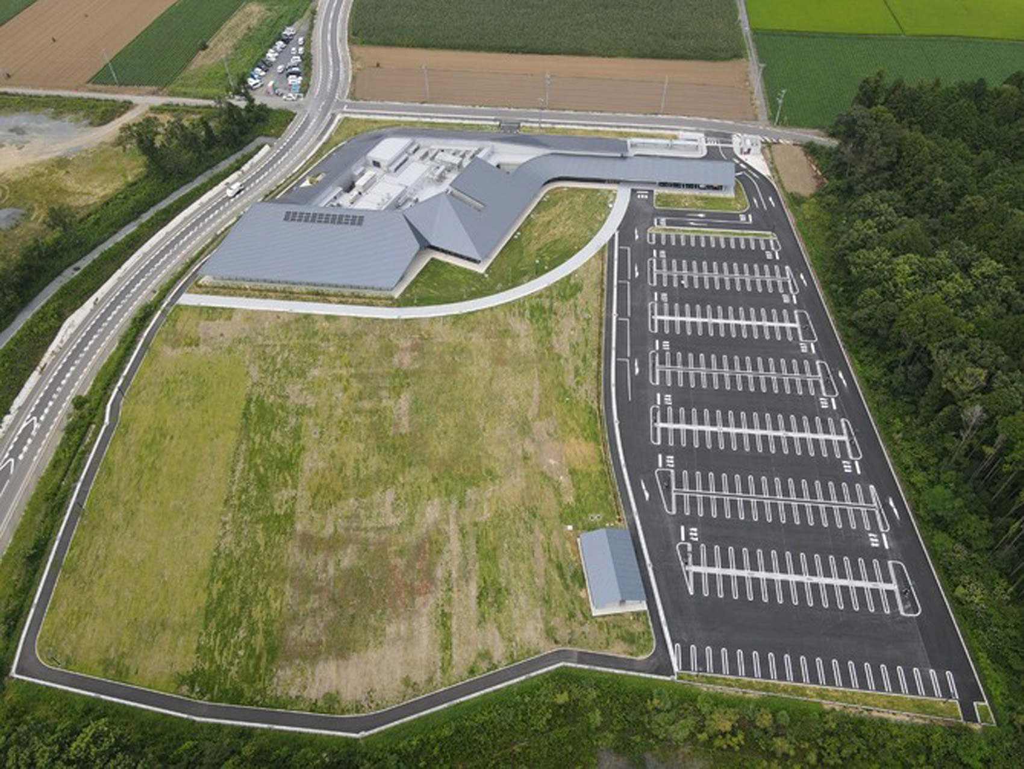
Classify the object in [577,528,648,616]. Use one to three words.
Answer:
shed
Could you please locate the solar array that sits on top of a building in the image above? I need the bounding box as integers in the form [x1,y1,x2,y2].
[284,211,363,225]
